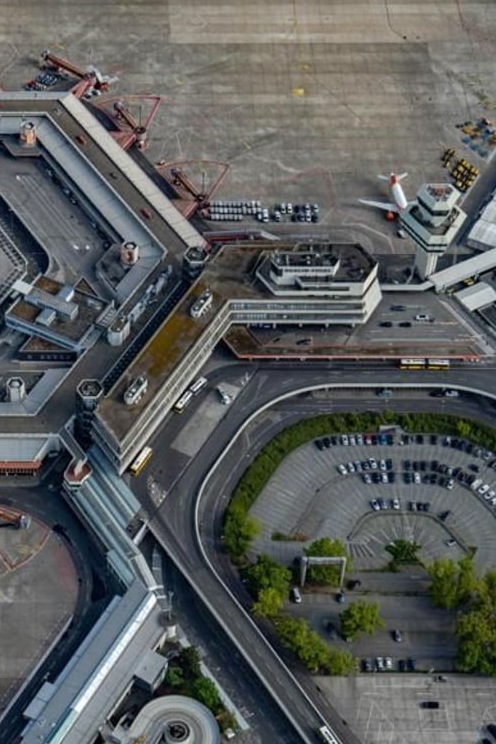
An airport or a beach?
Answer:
airport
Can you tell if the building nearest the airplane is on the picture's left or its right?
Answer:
right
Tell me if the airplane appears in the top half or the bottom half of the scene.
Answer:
top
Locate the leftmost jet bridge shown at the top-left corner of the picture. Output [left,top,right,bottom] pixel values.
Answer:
[41,52,97,93]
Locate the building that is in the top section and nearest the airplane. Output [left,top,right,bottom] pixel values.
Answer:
[399,183,468,285]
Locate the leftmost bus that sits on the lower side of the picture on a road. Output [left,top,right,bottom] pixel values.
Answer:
[130,447,152,476]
